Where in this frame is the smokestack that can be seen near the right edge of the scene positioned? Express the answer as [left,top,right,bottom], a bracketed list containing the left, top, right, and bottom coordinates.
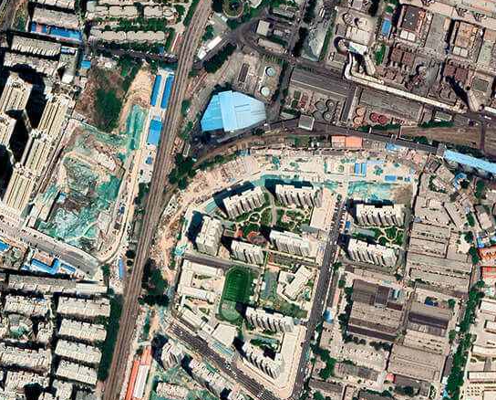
[466,87,480,113]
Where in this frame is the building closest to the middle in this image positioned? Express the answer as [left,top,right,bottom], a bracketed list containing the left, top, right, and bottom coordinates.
[223,188,268,225]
